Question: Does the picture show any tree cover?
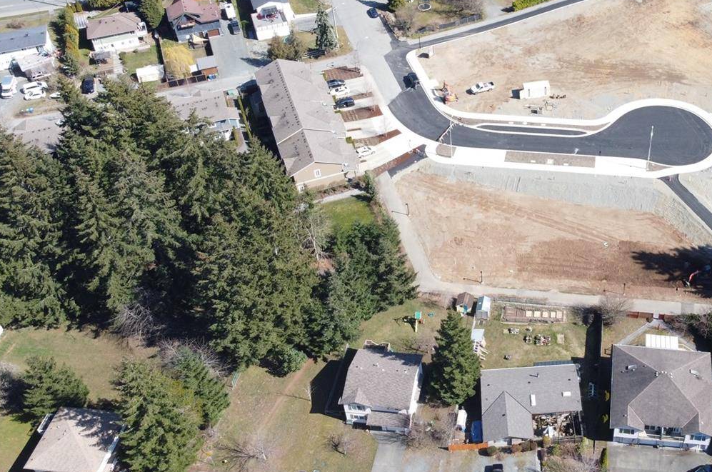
Yes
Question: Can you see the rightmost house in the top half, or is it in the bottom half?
bottom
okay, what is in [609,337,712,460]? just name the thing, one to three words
house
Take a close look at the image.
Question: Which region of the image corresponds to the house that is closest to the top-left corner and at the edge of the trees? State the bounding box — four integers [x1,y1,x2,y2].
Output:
[0,25,59,80]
